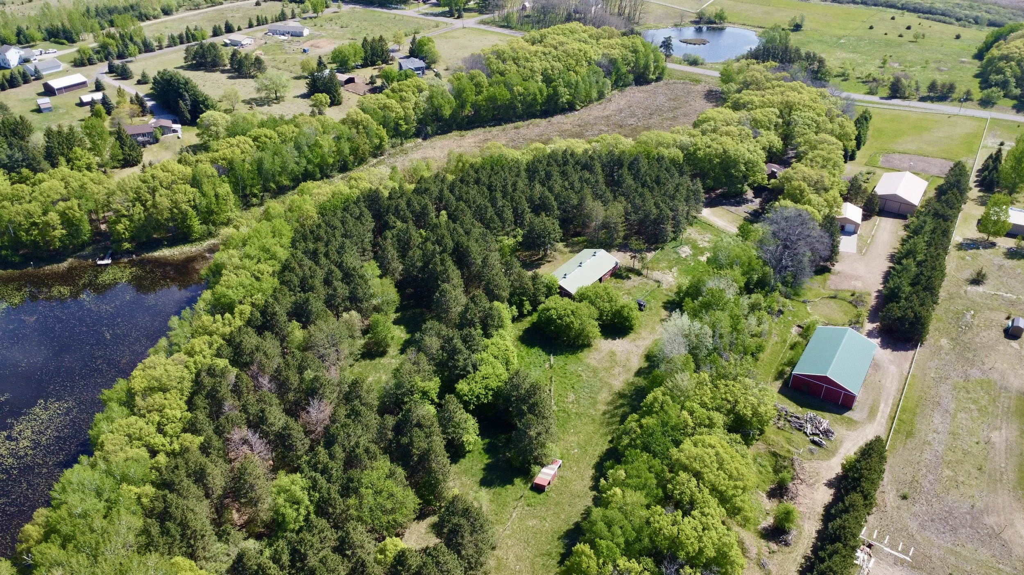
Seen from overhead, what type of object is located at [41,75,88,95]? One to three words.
shed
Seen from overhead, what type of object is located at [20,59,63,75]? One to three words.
shed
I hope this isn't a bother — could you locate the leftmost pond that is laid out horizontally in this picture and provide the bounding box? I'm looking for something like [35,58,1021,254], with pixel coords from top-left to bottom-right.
[639,25,758,63]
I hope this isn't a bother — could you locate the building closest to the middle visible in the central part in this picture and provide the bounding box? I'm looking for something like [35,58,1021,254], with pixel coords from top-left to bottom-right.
[545,248,620,300]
